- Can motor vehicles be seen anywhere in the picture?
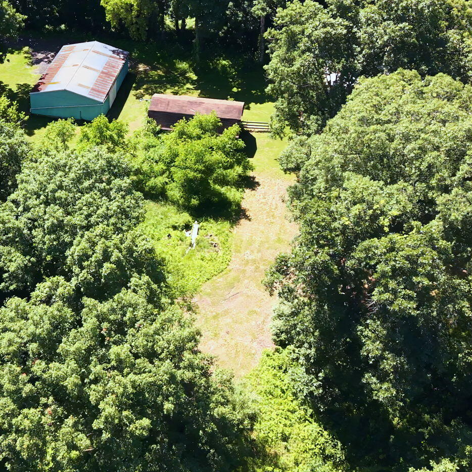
No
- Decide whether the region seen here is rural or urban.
rural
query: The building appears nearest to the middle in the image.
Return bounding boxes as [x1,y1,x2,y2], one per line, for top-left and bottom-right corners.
[149,93,245,135]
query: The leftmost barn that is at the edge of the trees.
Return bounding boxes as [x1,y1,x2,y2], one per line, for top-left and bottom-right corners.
[28,40,129,119]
